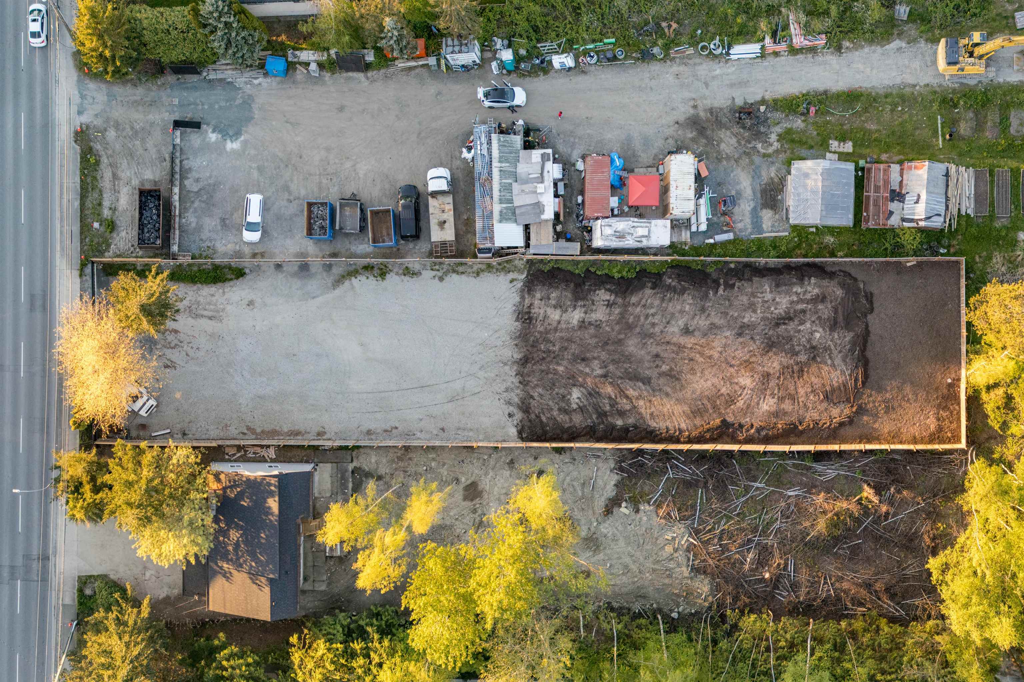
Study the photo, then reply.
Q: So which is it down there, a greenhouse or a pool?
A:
greenhouse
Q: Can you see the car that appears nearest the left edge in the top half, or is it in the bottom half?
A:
top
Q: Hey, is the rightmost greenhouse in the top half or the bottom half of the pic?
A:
top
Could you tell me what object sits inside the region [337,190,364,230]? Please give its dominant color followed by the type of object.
gray trailer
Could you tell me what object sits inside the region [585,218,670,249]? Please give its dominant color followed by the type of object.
white camper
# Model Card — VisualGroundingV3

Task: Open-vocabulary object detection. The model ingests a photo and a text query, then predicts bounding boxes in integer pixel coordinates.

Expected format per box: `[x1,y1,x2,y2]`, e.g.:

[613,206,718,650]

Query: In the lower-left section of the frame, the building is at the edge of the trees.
[207,466,317,622]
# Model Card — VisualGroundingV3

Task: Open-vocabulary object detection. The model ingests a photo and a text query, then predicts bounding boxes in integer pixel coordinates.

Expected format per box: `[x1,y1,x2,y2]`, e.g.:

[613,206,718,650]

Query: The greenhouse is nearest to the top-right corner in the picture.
[853,161,950,231]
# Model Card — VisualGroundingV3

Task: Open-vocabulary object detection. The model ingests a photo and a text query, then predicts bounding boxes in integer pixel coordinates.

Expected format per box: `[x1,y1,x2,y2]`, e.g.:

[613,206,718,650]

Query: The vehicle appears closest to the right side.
[932,32,1024,76]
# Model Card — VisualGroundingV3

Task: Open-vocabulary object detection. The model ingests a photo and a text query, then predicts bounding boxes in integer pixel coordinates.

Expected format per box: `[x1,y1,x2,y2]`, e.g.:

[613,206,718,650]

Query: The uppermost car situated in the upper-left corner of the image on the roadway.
[27,4,53,50]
